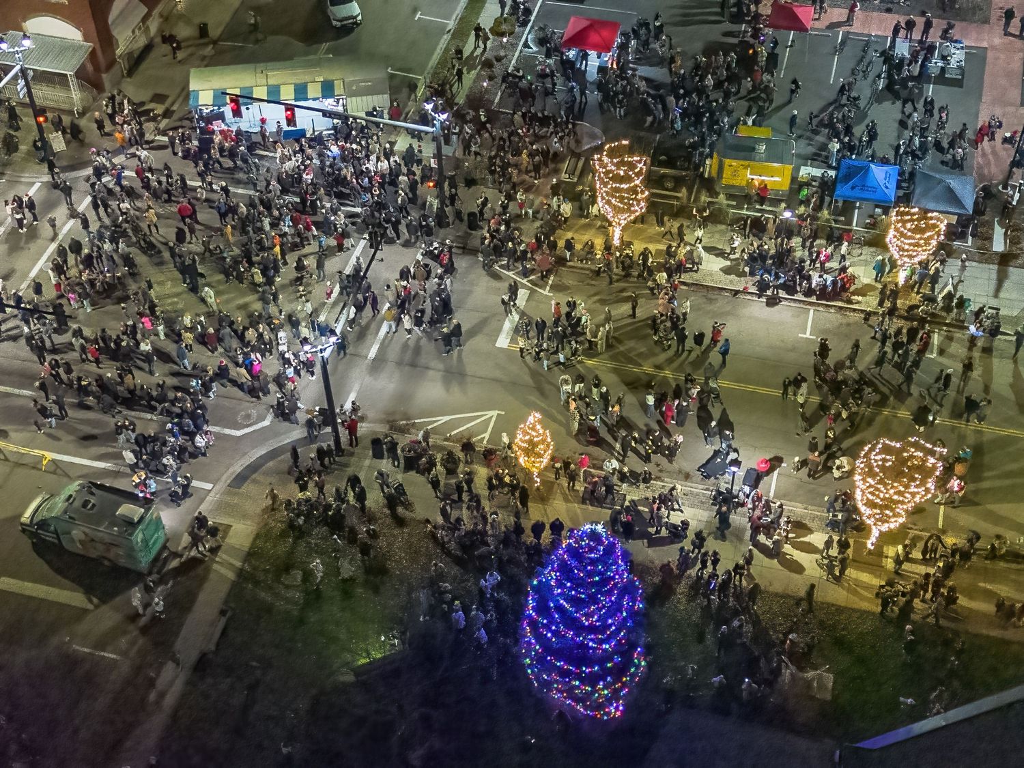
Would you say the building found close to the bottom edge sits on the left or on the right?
right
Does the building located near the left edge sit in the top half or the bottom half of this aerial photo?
top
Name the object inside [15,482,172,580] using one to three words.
van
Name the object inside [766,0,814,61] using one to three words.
tent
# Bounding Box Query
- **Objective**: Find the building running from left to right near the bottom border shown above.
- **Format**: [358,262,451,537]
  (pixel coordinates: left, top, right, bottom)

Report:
[831,686,1024,768]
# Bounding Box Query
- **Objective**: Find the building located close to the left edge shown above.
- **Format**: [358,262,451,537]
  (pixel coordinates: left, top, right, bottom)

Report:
[0,0,186,117]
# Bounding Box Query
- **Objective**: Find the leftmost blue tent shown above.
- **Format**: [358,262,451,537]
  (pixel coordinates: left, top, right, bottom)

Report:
[830,159,899,236]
